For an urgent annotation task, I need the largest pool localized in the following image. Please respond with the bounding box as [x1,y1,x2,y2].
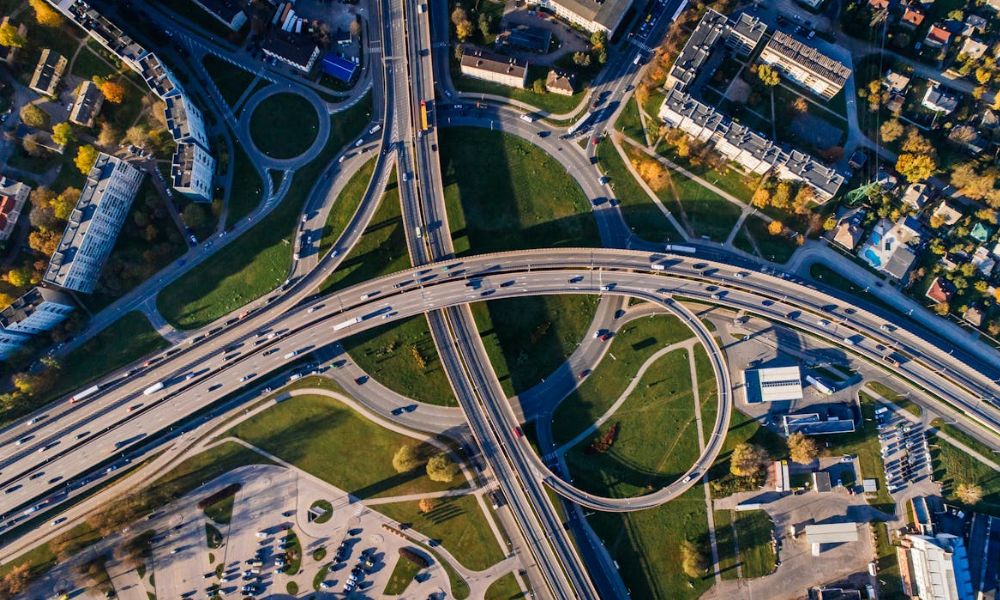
[866,246,881,266]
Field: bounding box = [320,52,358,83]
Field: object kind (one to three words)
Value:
shed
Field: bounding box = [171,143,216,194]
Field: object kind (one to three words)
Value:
building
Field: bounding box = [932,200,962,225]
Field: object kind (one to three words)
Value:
house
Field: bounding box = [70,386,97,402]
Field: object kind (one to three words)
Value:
vehicle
